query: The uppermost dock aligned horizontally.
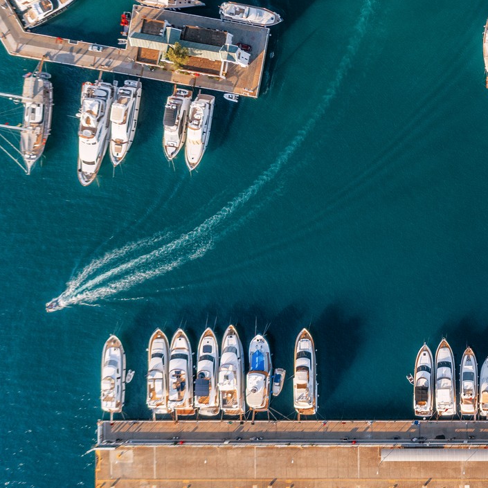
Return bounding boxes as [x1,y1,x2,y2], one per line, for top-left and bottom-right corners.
[0,0,274,99]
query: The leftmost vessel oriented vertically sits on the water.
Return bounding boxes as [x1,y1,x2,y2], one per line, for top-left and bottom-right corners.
[0,64,52,178]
